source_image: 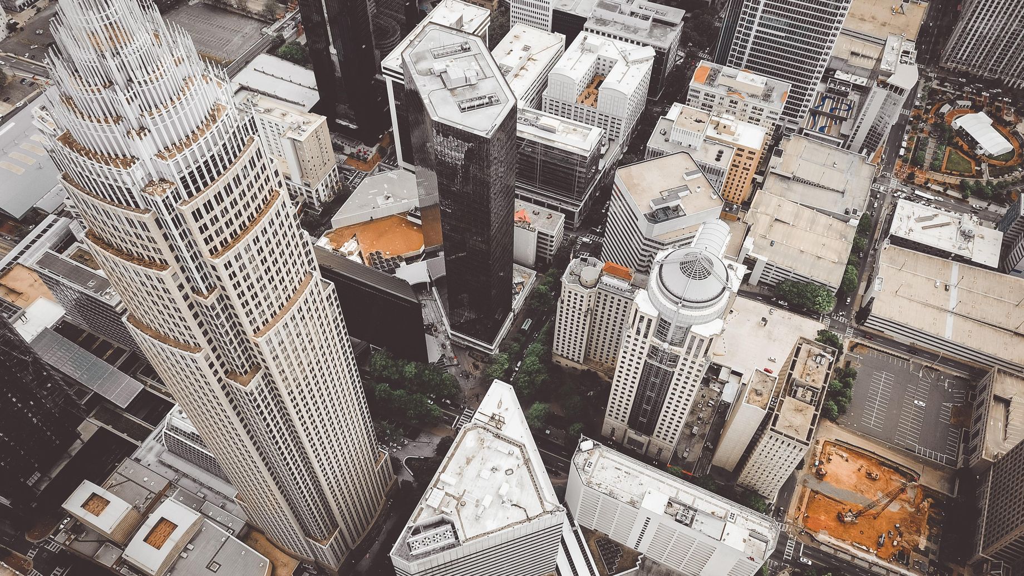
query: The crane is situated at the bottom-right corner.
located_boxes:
[835,479,916,523]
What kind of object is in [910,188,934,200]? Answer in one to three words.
vehicle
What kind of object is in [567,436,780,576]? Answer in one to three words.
building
